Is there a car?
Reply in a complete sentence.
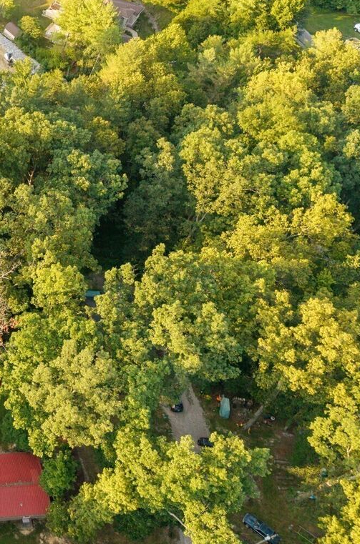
Yes, there's a car here.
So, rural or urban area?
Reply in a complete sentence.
The area is rural.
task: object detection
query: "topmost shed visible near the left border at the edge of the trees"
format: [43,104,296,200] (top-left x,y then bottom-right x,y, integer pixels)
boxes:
[4,25,27,45]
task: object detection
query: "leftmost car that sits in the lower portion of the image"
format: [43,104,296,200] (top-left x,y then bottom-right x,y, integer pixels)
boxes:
[165,398,191,417]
